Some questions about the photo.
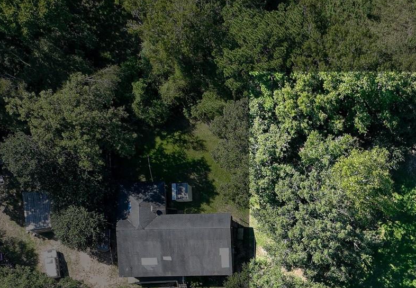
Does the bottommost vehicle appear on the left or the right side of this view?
left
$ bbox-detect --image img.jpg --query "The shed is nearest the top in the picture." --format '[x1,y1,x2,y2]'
[173,182,194,203]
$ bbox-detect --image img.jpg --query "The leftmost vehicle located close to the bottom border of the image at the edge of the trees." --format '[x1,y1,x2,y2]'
[44,247,68,284]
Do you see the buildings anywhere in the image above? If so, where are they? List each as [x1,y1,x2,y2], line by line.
[173,182,194,203]
[112,183,234,288]
[22,192,59,233]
